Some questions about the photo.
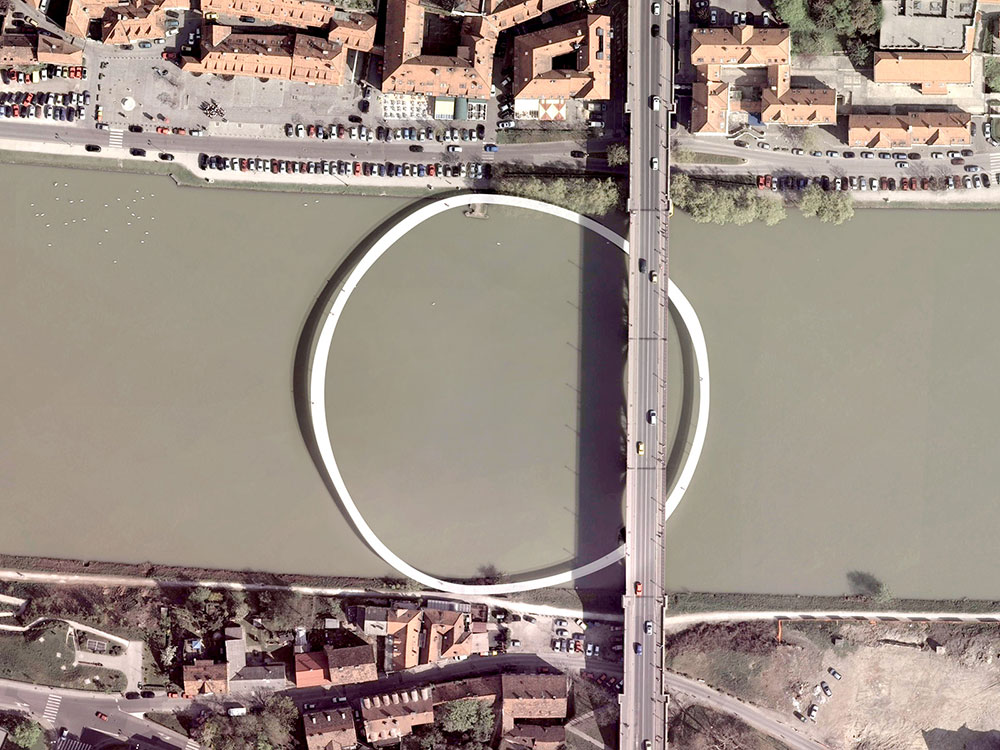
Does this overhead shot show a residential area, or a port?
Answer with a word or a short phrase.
residential area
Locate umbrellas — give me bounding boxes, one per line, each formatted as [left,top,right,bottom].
[539,100,552,120]
[553,100,565,120]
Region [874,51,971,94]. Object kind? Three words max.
building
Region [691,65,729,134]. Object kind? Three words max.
house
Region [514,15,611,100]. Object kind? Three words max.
building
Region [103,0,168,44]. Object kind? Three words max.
house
